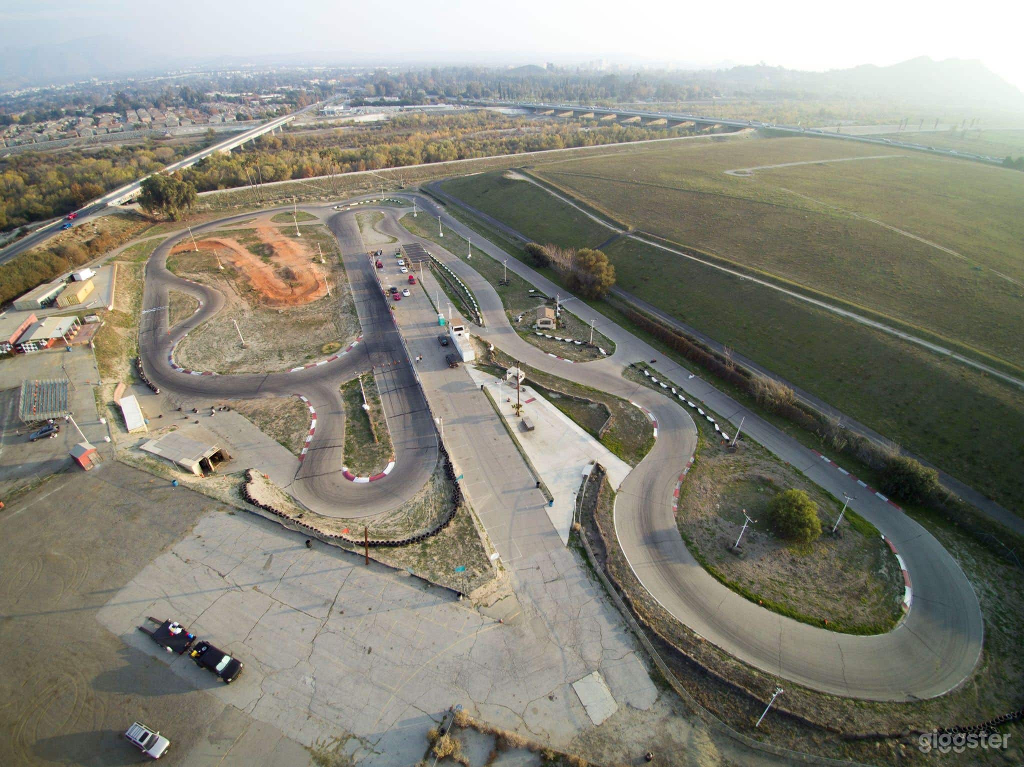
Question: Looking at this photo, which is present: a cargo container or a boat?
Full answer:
Visible in the photo is a cargo container.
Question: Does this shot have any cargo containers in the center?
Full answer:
No, there's no cargo container to be seen in the center.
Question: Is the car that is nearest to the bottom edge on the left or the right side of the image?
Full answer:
It is on the left.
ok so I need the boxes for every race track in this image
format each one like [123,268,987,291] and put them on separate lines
[126,192,983,702]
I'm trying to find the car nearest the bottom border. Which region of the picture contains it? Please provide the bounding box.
[118,718,173,762]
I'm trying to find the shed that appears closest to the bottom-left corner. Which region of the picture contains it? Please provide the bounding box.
[54,444,108,471]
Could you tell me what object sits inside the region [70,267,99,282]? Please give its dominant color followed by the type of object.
white vehicle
